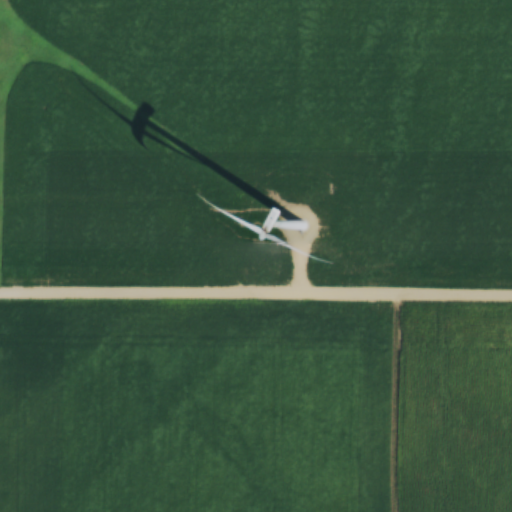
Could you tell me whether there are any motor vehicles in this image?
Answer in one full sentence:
No, this view has no motor vehicle in it.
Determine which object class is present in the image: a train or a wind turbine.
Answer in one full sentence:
The image shows a wind turbine.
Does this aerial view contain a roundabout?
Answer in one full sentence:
No, there is no roundabout in the image.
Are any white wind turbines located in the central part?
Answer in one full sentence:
Yes, a white wind turbine appears in the central part.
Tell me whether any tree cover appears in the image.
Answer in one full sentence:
No, the picture contains no tree cover.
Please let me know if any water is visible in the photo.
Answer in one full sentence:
No, there's no water in this view.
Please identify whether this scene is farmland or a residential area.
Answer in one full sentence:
The area seen from above is farmland.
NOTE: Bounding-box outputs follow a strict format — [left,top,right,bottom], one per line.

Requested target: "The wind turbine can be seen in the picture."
[196,194,330,264]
